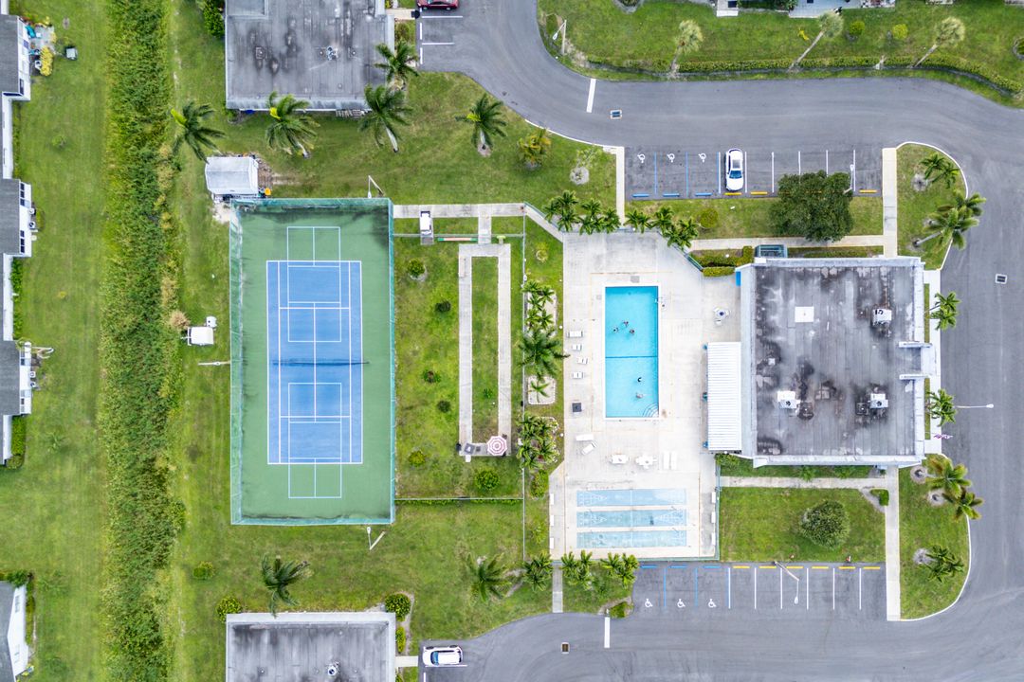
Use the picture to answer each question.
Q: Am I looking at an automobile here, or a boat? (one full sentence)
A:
Looking from above, you can make out an automobile.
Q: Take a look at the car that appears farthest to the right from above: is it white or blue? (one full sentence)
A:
In this view, the car that appears farthest to the right is white.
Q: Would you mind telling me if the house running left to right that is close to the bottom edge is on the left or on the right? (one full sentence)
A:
It is on the left.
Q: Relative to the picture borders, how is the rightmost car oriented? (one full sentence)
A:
In this picture, the rightmost car is oriented from top to bottom.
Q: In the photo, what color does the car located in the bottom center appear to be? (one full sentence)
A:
The car located in the bottom center looks white in the image.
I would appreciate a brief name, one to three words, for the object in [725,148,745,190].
car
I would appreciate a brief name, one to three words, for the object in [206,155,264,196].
shed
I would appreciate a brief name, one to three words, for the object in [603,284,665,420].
swimming pool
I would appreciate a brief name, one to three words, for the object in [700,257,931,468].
building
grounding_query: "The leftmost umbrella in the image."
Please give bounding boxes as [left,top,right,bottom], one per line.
[487,438,506,458]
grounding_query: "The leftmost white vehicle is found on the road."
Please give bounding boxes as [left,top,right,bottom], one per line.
[421,648,461,671]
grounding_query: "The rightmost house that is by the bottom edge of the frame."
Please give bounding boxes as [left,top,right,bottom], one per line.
[226,611,395,682]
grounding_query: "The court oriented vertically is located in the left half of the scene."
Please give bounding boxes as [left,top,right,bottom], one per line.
[241,204,389,517]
